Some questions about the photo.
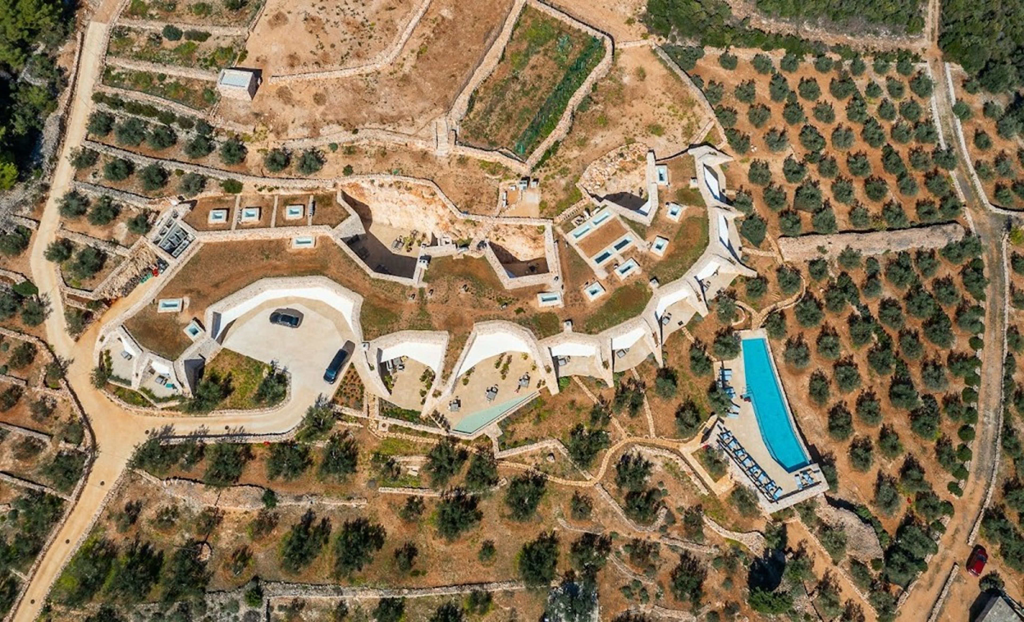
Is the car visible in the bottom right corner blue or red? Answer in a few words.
red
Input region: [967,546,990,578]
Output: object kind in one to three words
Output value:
car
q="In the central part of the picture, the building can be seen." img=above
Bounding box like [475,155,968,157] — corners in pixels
[93,145,757,436]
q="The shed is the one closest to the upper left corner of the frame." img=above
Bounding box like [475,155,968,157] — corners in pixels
[217,69,260,102]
